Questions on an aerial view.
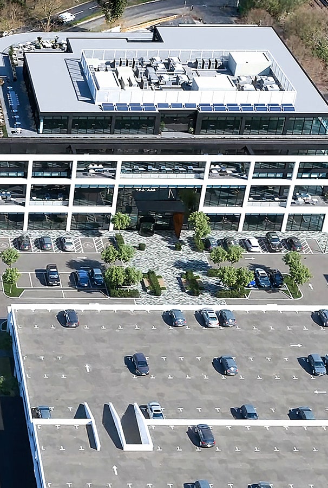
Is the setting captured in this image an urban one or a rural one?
urban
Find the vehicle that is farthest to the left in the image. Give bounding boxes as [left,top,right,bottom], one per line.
[17,232,31,250]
